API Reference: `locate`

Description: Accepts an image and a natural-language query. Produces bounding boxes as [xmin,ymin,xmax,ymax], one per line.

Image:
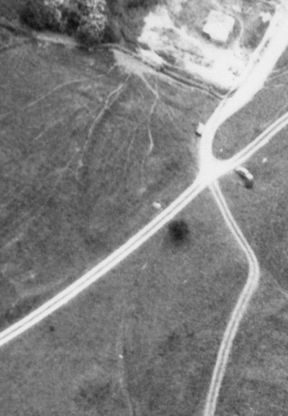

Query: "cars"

[195,121,209,137]
[235,164,256,184]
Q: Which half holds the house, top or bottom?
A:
top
